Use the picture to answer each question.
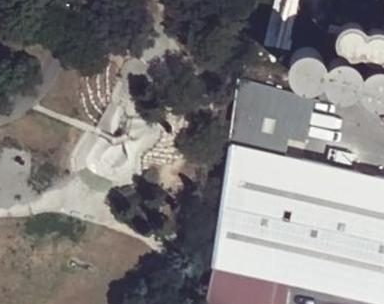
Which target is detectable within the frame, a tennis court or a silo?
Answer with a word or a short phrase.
silo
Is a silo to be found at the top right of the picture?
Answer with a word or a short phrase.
Yes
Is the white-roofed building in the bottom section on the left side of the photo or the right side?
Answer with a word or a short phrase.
right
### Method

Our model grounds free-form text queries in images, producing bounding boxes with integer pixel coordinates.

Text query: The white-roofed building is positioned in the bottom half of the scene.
[211,142,384,304]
